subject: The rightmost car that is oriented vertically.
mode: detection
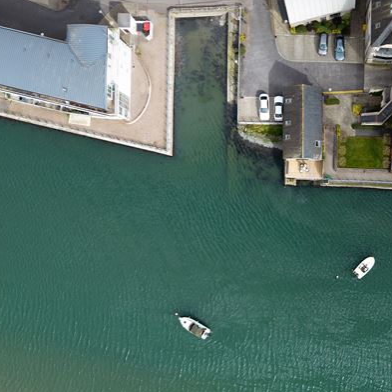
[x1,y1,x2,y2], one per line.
[334,36,346,62]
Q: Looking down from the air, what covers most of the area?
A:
water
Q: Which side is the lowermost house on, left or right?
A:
right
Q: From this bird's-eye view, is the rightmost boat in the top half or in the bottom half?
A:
bottom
